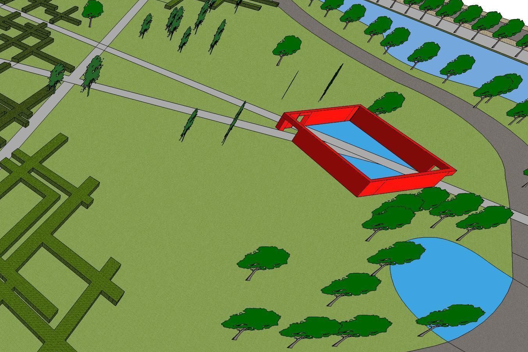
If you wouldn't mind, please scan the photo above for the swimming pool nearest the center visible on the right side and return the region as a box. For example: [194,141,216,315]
[284,121,414,178]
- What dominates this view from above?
grass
